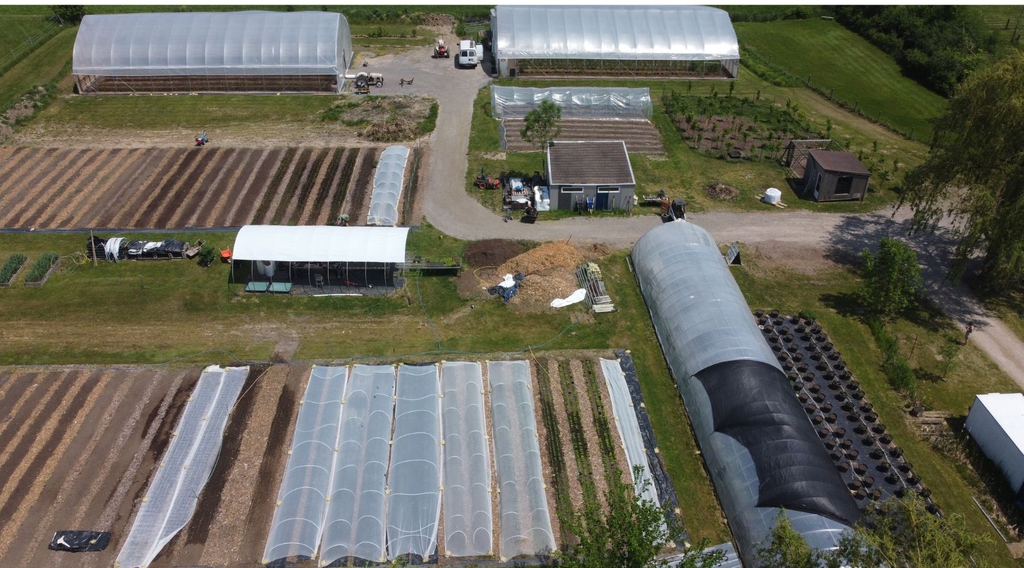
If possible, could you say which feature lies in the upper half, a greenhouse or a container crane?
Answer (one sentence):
It is a greenhouse that can be seen in the upper half.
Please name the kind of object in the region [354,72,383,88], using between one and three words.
work vehicle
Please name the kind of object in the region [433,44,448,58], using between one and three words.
work vehicle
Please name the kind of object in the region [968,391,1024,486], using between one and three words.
trailer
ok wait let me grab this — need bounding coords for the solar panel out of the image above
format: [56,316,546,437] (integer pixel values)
[725,239,743,265]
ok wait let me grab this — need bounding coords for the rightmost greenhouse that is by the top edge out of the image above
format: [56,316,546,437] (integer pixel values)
[489,3,743,78]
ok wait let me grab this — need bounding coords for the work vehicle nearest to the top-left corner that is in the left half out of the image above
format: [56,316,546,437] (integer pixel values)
[191,124,217,145]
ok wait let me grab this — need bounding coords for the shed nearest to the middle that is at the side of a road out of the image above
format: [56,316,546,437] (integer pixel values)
[546,139,639,212]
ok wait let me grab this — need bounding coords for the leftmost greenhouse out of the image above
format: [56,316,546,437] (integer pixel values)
[70,9,354,93]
